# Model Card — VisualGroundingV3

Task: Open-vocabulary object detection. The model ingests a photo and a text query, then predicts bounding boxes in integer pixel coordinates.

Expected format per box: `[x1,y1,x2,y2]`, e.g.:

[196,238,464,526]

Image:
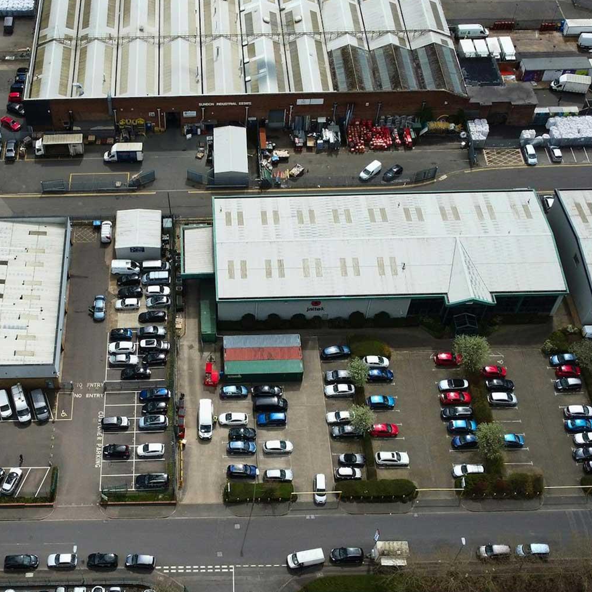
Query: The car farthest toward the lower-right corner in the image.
[517,541,548,558]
